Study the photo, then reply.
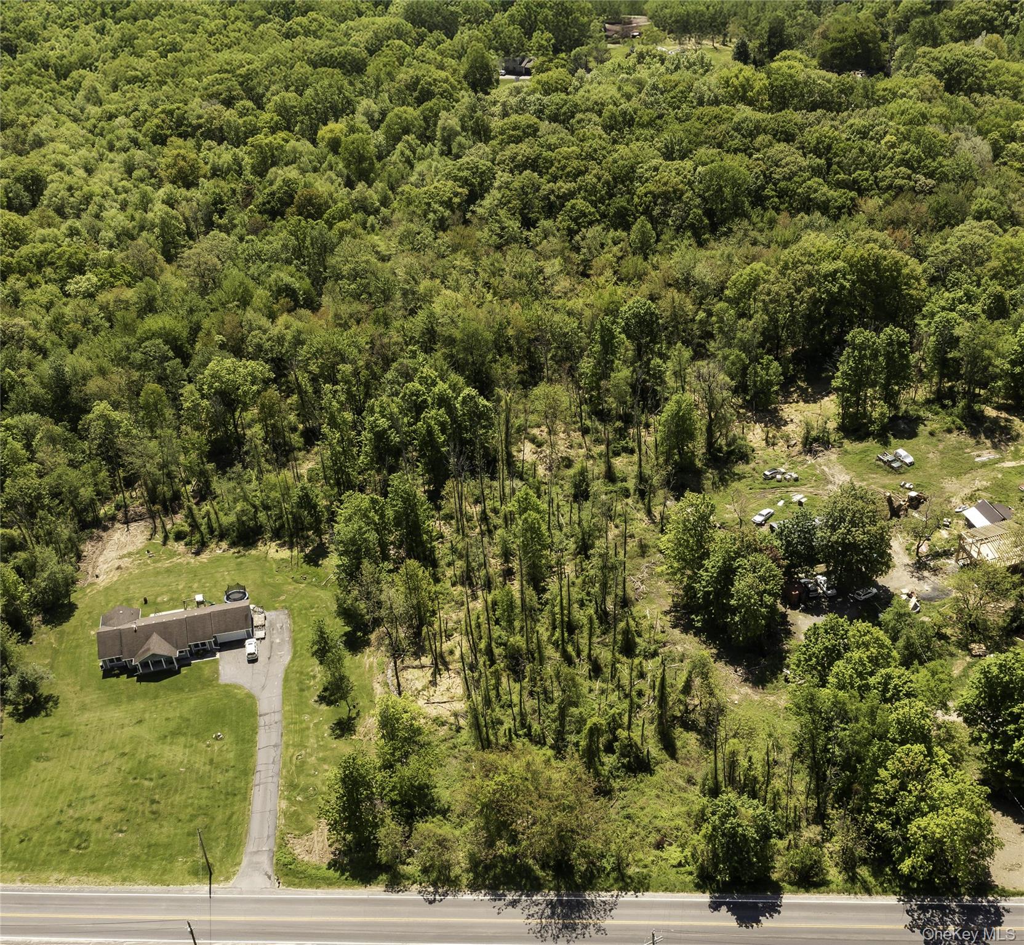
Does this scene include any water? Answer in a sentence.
No, the picture contains no water.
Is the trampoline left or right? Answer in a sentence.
The trampoline sits on the left side.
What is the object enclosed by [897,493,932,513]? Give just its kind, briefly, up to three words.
work vehicle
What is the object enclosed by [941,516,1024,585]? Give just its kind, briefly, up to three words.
building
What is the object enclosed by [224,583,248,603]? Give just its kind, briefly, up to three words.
trampoline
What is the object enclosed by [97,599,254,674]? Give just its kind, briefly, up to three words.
house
